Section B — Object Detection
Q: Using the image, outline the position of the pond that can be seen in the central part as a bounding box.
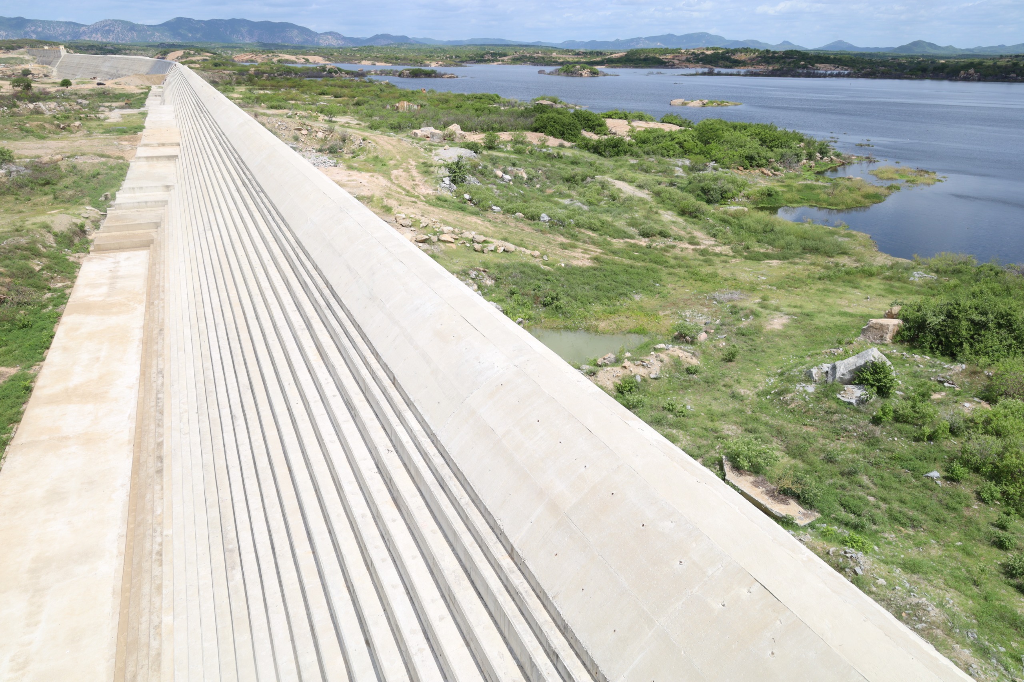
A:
[524,327,639,367]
